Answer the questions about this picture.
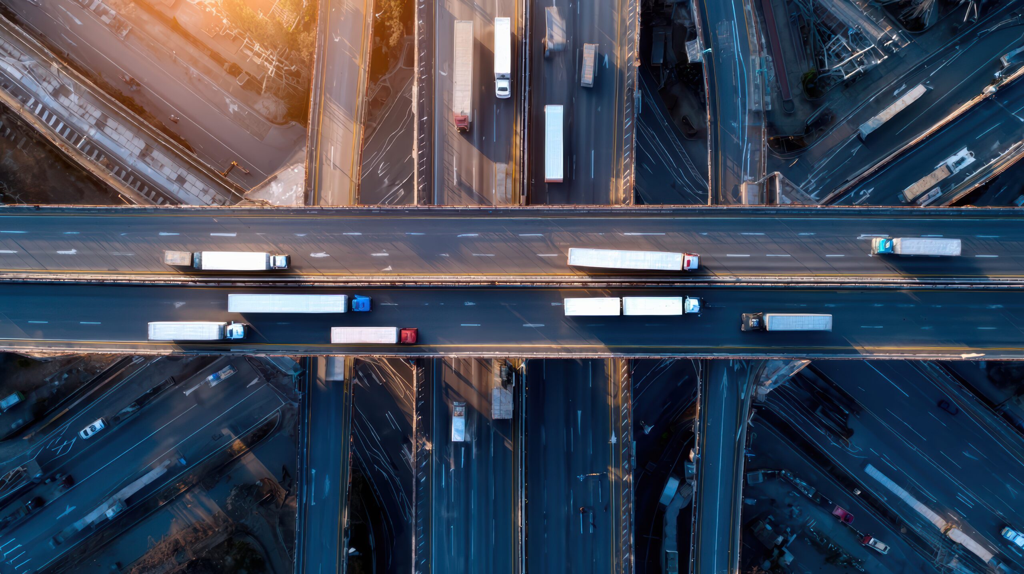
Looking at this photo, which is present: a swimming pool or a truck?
truck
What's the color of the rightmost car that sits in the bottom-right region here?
blue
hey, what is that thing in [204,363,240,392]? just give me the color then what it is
blue truck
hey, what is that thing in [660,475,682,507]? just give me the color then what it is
blue truck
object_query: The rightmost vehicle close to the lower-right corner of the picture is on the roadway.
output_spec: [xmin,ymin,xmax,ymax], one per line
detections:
[999,525,1024,549]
